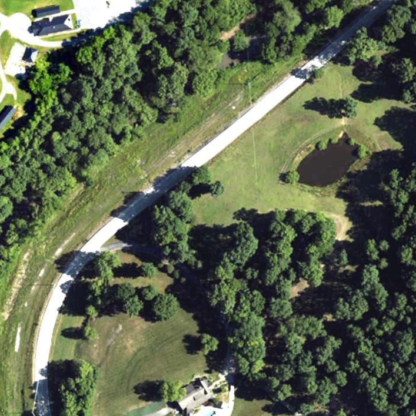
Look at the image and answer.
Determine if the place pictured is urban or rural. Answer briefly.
rural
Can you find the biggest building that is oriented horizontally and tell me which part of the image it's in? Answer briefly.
top left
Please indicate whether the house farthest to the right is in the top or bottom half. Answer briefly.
bottom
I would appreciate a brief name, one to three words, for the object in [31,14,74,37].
building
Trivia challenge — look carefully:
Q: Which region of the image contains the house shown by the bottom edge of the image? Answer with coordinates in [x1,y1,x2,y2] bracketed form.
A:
[180,383,213,411]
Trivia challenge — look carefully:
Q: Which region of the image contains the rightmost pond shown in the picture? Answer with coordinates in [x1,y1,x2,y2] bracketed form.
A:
[298,136,359,186]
